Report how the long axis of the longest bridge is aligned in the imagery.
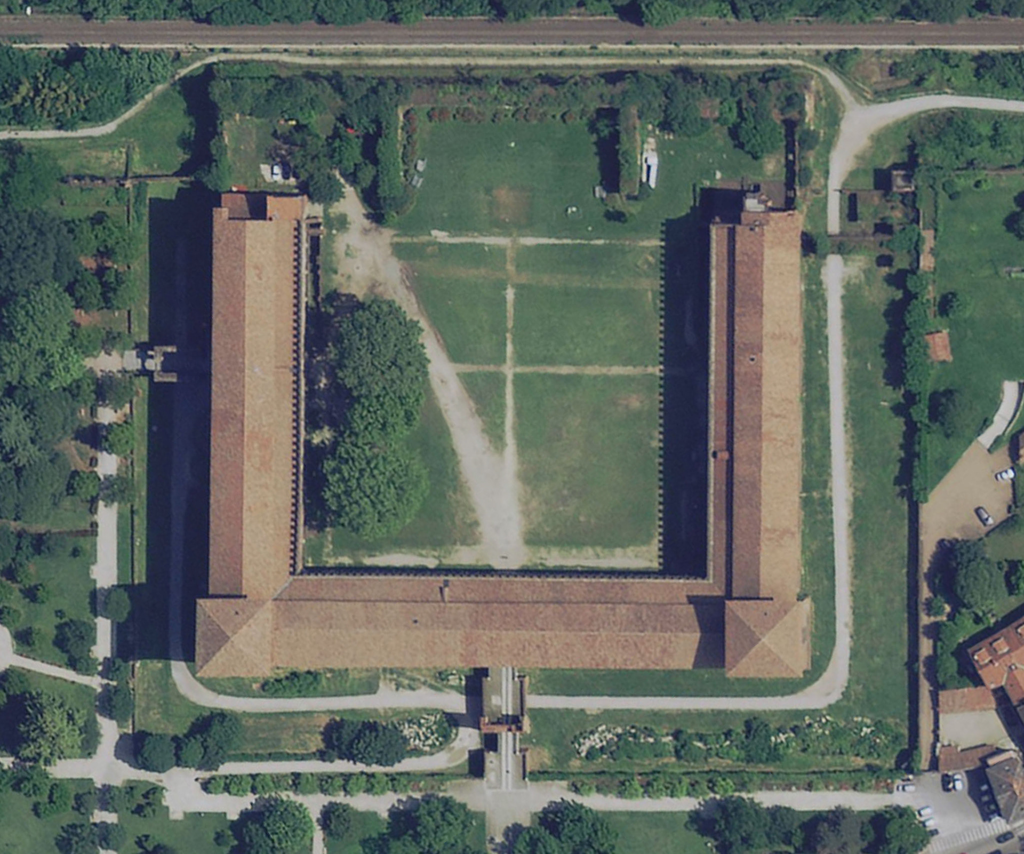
vertically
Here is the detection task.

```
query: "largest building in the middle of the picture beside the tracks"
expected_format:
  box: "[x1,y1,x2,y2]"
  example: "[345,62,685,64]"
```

[197,184,811,677]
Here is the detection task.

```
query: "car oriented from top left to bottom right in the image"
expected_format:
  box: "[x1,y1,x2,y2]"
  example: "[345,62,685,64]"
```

[977,507,992,526]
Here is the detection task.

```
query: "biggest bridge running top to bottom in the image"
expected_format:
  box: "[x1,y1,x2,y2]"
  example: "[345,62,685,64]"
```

[482,668,527,790]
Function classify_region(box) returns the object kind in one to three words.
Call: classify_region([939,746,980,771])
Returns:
shed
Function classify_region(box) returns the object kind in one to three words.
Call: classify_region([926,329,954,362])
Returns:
house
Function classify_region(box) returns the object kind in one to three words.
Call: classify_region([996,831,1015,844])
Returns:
vehicle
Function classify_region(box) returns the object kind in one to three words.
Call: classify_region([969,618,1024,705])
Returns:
house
